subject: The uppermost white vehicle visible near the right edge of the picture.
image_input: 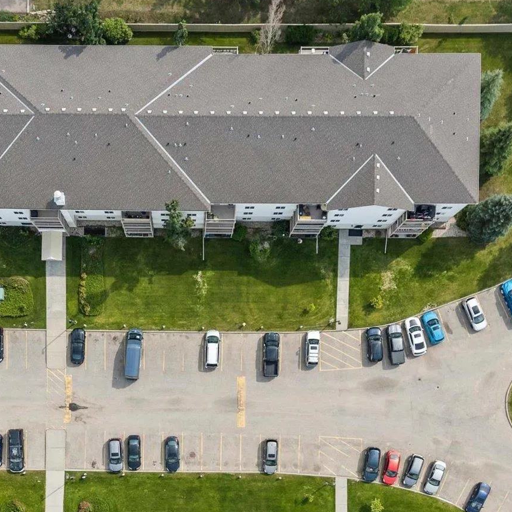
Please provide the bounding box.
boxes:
[461,297,487,333]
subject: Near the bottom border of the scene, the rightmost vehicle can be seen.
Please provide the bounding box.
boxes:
[465,481,490,512]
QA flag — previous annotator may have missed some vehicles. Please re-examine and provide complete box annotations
[205,331,222,368]
[125,436,142,470]
[106,439,123,473]
[6,429,24,473]
[401,453,424,488]
[365,327,384,363]
[125,329,144,380]
[403,318,426,357]
[499,279,512,313]
[465,481,490,512]
[262,333,281,377]
[461,297,487,333]
[69,328,87,364]
[421,311,444,346]
[164,437,180,472]
[361,447,380,482]
[304,331,322,368]
[385,324,407,366]
[422,460,445,496]
[381,448,400,485]
[261,439,279,475]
